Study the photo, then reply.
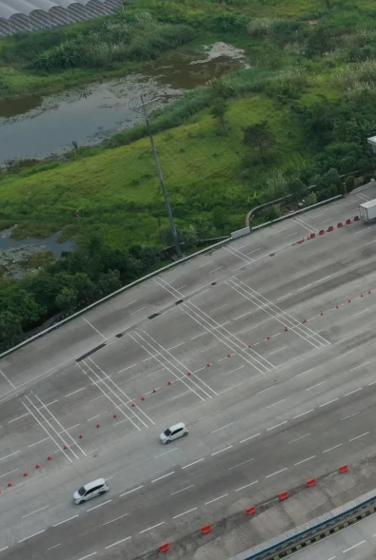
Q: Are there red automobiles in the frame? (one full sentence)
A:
No, I find no red automobile anywhere in the image.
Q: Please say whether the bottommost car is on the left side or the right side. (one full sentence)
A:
The bottommost car appears in the left half of the scene.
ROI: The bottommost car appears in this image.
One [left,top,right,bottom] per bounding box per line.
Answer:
[69,477,112,505]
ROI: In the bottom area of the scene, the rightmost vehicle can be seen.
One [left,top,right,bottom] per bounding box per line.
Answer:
[158,421,190,443]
